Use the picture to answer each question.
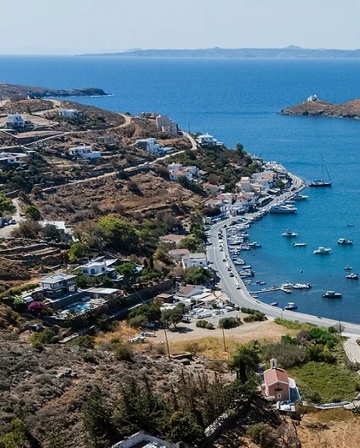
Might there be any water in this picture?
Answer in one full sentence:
Yes, water shows up in the scene.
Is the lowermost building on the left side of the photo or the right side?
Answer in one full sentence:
You can find the lowermost building on the right side of the picture.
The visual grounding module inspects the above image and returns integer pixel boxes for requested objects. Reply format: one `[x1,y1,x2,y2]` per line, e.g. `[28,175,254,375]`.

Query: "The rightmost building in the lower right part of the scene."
[268,355,295,401]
